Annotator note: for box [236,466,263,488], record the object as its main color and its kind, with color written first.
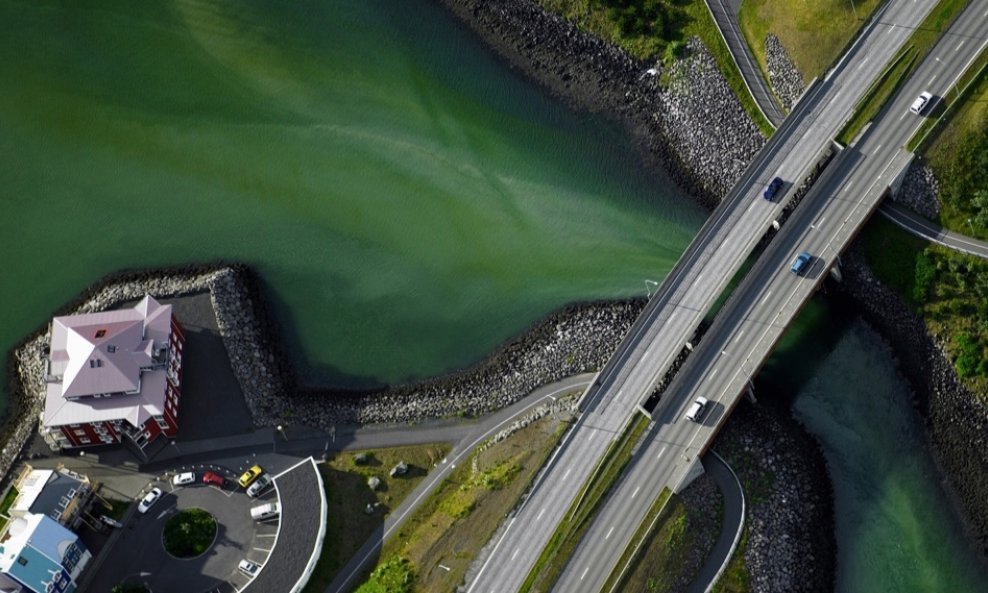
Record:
yellow car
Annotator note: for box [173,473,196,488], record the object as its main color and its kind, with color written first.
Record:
white car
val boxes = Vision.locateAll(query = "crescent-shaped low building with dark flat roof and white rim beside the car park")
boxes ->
[235,456,327,593]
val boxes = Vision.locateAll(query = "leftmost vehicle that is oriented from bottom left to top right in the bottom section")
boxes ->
[137,490,163,514]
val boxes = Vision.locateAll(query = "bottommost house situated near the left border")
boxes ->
[0,511,97,593]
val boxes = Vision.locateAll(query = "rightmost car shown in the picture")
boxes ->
[911,92,932,117]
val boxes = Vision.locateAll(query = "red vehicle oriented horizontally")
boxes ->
[202,473,227,488]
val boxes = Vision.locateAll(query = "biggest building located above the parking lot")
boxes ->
[38,298,178,471]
